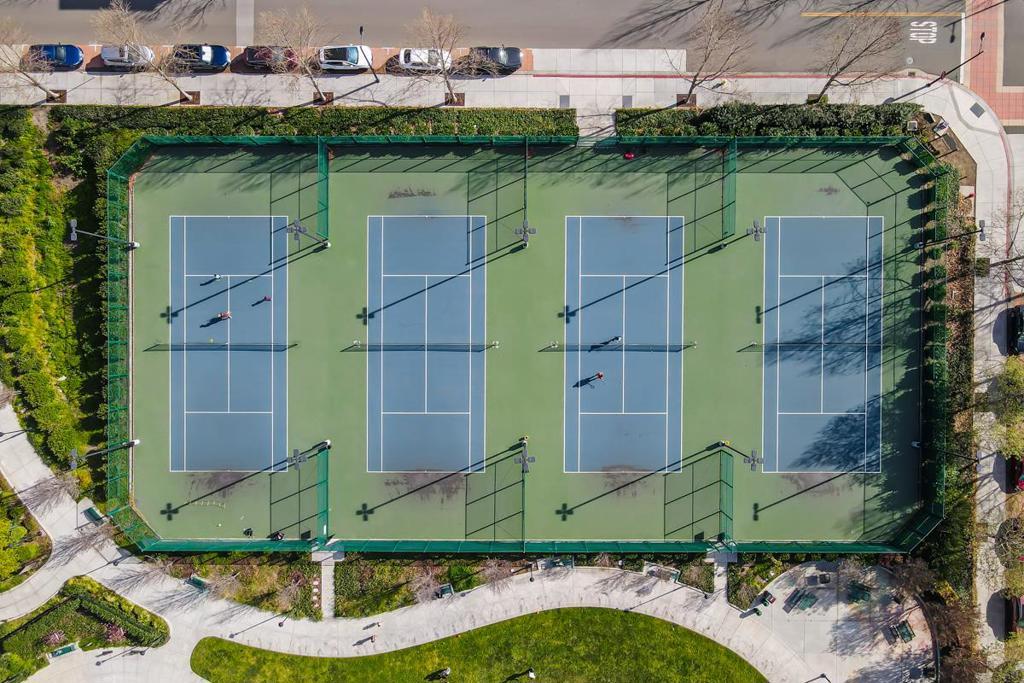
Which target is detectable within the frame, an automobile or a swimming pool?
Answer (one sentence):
I can see an automobile in this picture.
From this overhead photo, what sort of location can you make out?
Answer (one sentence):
The area seen from above is a sports ground.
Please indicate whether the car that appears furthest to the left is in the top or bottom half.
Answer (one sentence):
It is in the top half that the car that appears furthest to the left appears.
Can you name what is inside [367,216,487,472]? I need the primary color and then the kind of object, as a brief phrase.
blue tennis court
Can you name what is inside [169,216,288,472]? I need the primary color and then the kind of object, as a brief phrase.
blue tennis court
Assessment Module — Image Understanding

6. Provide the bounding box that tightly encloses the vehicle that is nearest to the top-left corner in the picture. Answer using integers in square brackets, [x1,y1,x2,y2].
[30,44,83,69]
